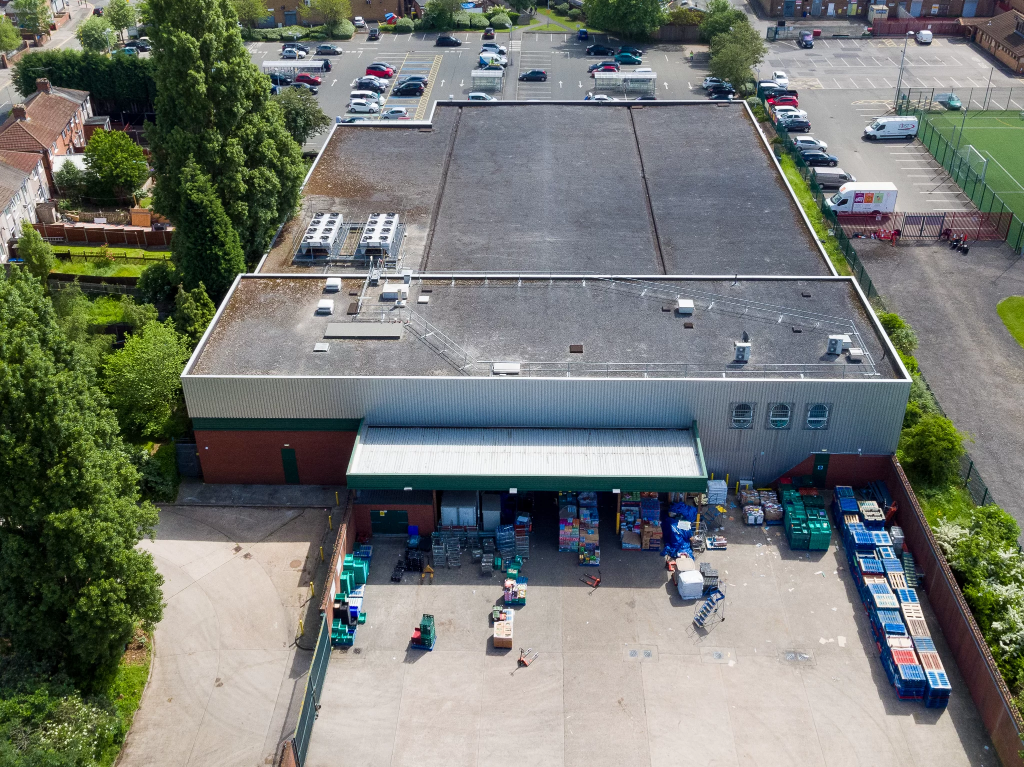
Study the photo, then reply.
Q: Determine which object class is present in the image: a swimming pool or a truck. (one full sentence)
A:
This aerial view contains a truck.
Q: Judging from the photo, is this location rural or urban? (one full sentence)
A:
The area is urban.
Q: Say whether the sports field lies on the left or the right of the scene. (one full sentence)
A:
It is on the right.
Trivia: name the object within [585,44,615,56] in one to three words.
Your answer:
vehicle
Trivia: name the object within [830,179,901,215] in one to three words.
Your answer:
truck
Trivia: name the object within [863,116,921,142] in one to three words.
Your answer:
vehicle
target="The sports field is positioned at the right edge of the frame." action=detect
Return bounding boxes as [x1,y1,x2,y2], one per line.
[921,110,1024,252]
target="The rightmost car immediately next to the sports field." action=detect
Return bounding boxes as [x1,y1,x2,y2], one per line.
[941,93,964,110]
